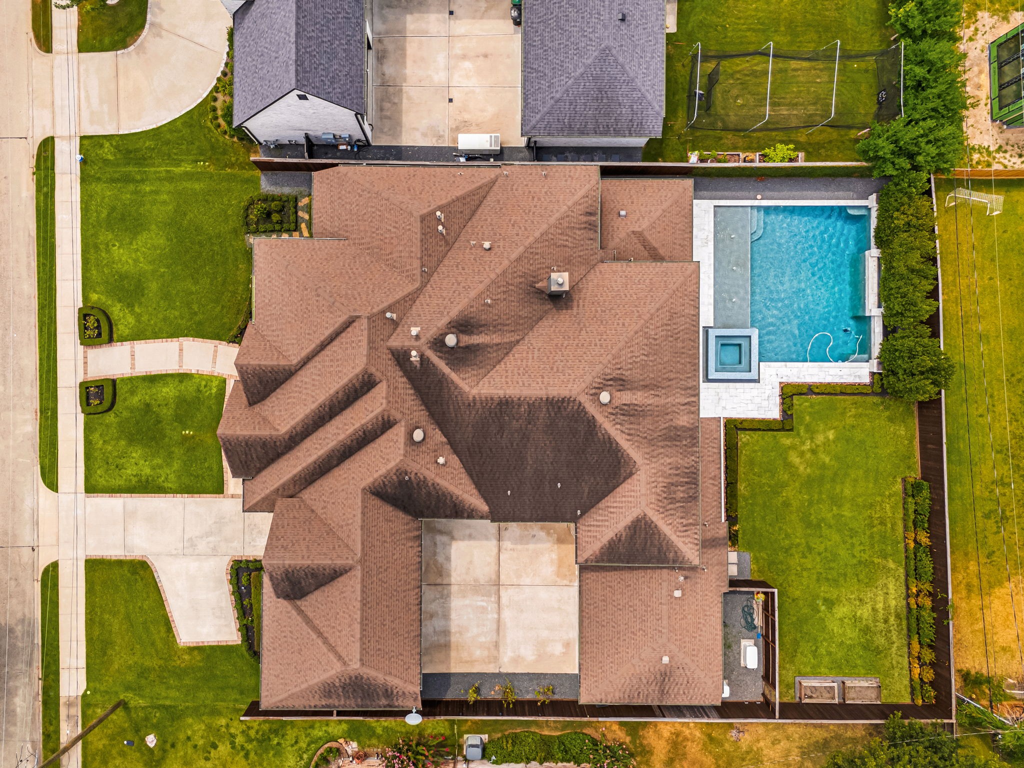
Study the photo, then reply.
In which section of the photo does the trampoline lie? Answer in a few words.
top right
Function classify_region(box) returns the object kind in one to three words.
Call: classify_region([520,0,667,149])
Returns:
house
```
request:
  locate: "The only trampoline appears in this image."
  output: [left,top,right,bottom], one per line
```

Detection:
[980,23,1024,126]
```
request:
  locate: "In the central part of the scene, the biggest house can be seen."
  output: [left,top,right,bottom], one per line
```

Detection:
[217,163,730,711]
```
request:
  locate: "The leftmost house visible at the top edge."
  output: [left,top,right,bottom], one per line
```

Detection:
[222,0,375,147]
